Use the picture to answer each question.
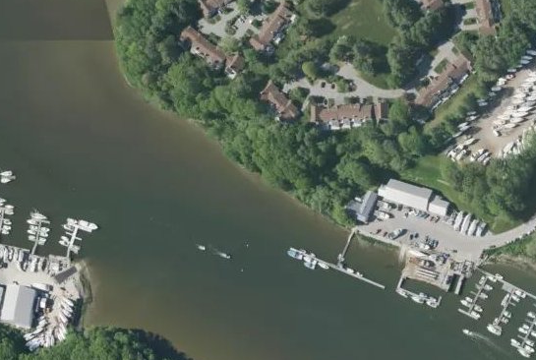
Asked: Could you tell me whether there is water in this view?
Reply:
Yes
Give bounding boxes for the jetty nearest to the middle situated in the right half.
[290,230,386,288]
